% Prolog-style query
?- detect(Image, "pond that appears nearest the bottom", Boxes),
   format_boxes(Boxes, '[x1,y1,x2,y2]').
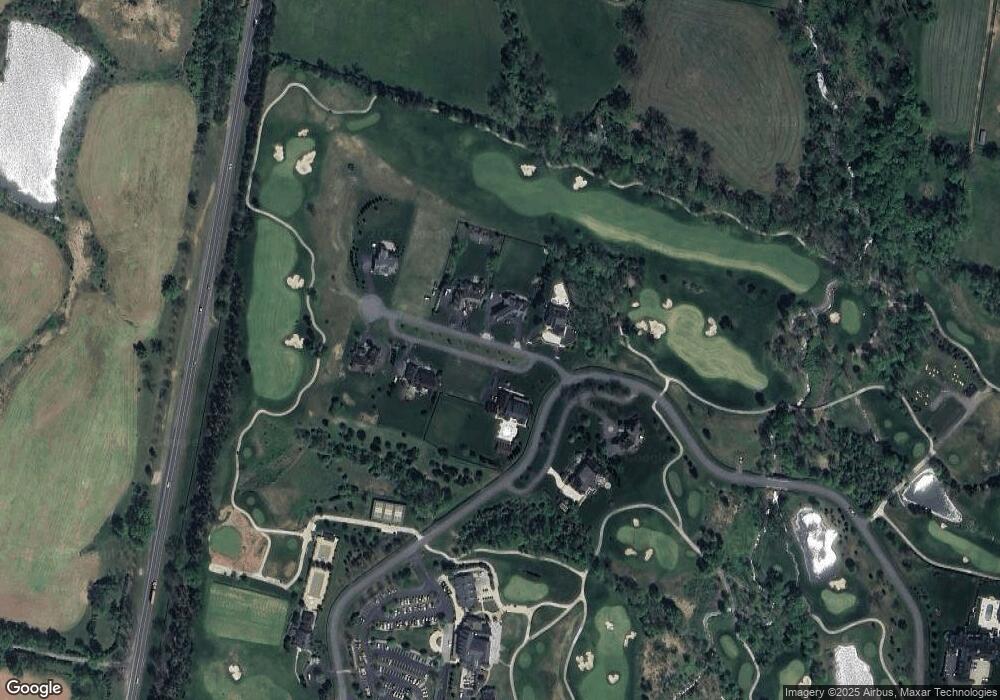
[833,643,876,700]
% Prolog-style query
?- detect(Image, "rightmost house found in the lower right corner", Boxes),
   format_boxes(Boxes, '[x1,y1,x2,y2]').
[943,625,1000,675]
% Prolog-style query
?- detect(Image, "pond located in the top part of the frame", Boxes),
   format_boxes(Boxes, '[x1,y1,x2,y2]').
[0,21,92,207]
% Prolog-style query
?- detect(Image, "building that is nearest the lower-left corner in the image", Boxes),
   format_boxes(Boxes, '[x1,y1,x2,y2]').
[289,610,316,654]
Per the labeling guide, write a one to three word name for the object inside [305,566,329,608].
swimming pool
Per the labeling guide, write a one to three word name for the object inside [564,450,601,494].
house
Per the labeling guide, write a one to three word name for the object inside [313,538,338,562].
swimming pool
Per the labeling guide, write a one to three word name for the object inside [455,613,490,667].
building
